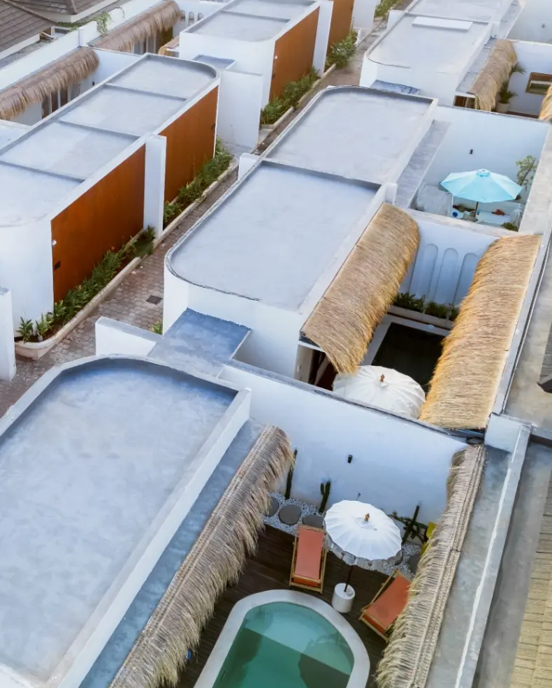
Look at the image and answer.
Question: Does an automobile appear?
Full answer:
No, there isn't any automobile down there.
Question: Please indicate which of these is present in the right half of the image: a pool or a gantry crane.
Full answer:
There is a pool in the right half of the image.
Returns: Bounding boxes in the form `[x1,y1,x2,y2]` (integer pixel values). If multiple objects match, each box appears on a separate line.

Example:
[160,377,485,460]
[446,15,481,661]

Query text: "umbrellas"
[313,509,400,614]
[441,167,521,226]
[333,362,423,417]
